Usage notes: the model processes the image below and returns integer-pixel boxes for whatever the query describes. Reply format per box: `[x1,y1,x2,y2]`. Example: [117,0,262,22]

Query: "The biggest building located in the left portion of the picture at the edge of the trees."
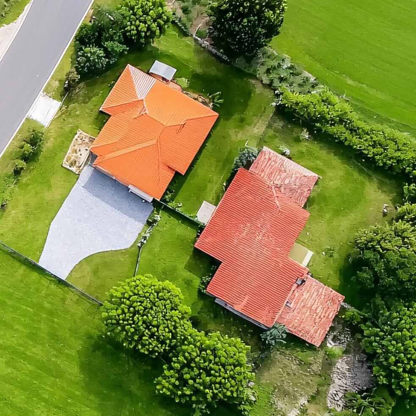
[89,64,219,201]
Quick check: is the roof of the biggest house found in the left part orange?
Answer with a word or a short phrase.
Yes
